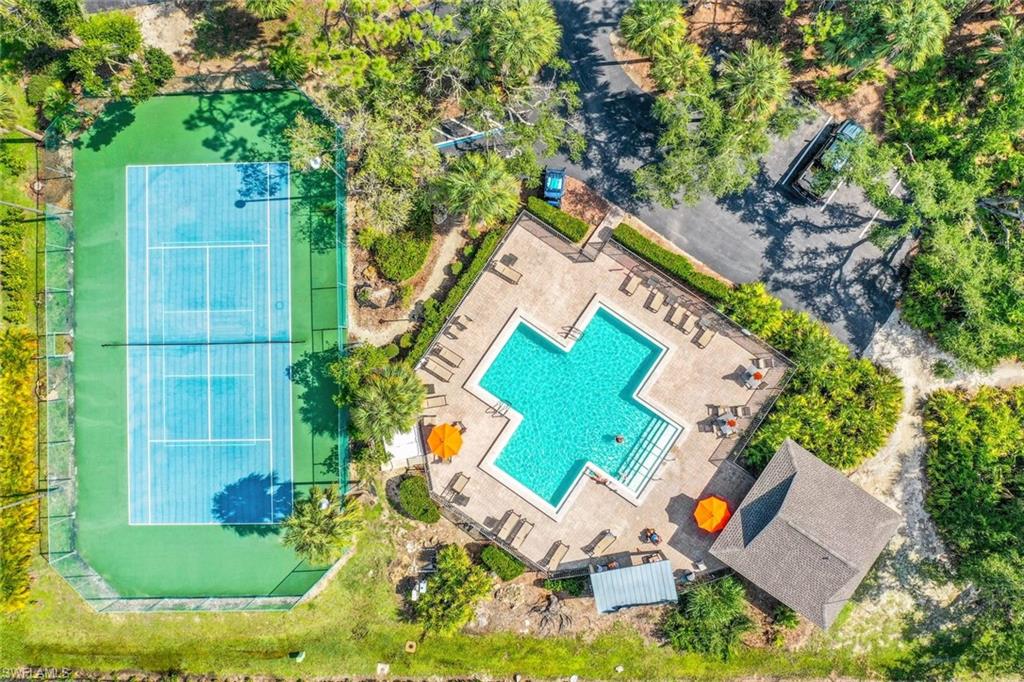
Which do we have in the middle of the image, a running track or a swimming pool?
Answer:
swimming pool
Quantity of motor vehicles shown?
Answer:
2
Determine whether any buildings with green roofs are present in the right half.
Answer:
No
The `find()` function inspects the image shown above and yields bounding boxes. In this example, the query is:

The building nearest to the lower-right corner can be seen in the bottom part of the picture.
[708,438,903,632]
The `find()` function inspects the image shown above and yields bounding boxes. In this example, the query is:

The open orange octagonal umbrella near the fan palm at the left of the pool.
[429,423,463,457]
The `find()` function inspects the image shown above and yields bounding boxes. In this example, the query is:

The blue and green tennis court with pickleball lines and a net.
[74,94,347,596]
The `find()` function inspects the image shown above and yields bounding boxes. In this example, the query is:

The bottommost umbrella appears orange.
[693,495,730,532]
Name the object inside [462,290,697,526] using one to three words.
swimming pool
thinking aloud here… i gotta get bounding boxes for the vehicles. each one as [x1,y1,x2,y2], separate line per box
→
[791,122,861,206]
[544,167,567,207]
